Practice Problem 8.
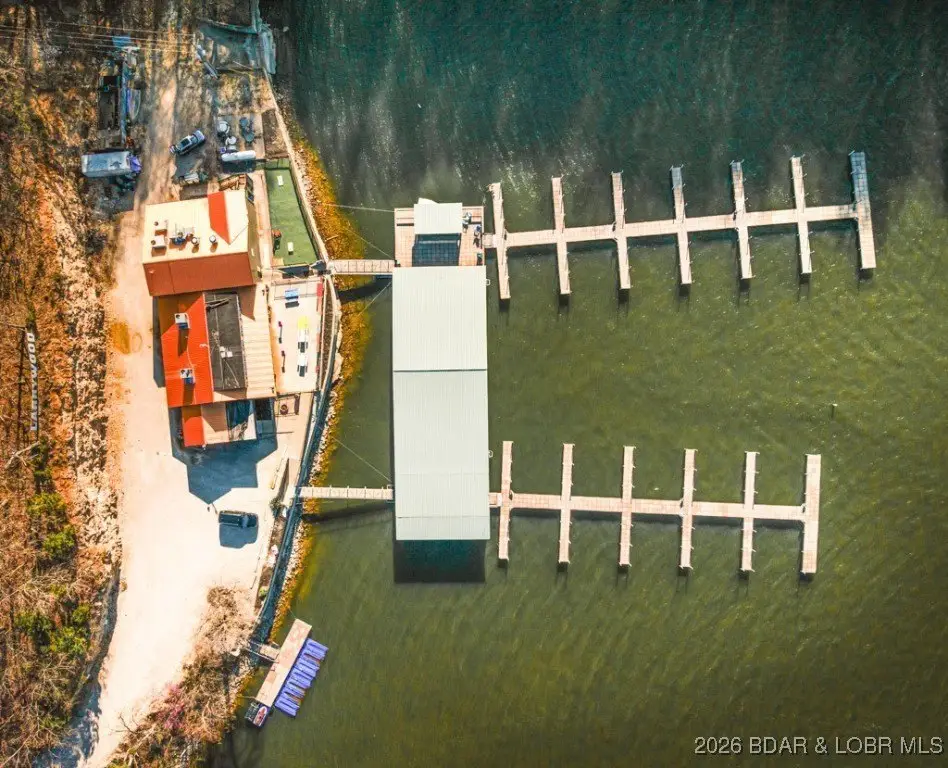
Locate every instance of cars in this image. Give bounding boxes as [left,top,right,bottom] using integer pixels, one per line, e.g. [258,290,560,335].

[217,512,258,531]
[167,127,206,156]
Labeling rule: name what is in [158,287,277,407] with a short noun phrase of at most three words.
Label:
building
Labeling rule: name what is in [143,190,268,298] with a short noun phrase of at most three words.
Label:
building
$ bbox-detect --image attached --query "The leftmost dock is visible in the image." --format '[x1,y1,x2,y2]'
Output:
[255,618,314,708]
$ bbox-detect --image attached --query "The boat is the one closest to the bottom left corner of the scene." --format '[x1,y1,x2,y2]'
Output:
[253,703,266,726]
